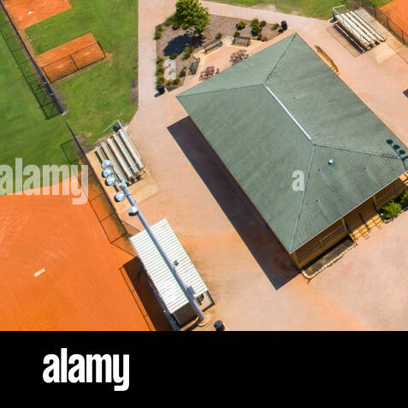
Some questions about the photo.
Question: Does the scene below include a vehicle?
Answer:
No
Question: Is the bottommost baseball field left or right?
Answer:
left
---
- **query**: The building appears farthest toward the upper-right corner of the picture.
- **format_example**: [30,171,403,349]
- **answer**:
[175,30,408,265]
